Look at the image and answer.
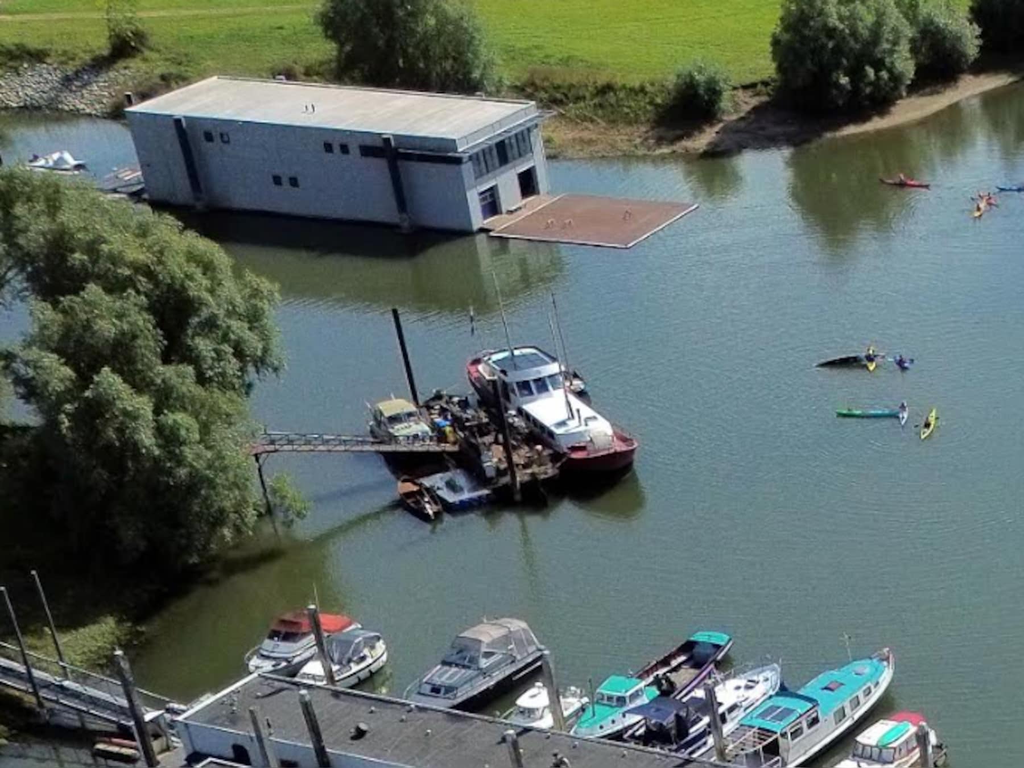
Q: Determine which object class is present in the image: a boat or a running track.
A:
boat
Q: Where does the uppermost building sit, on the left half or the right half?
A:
left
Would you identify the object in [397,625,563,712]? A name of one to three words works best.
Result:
boat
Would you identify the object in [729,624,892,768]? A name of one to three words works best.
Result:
boat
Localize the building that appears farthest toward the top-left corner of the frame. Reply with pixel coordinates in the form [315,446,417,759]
[123,74,556,235]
